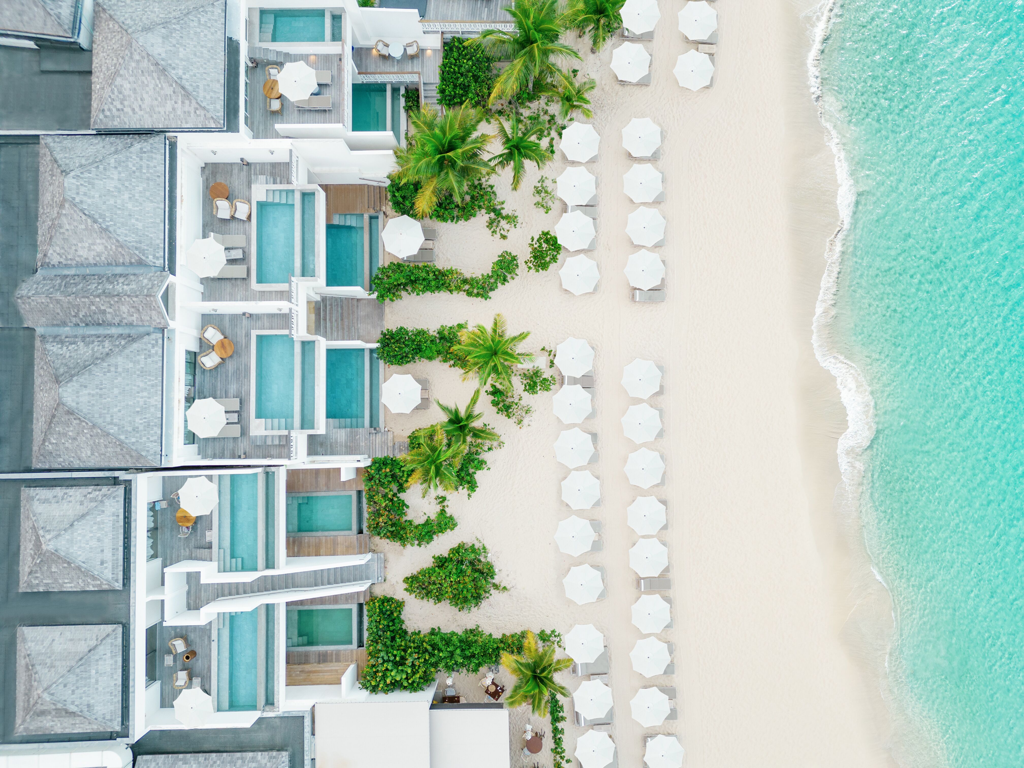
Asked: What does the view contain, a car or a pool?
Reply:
pool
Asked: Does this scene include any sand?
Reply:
Yes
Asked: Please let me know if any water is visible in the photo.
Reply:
Yes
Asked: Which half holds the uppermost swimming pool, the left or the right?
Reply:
left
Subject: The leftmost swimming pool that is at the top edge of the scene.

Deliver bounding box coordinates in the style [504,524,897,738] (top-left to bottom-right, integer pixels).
[251,7,350,54]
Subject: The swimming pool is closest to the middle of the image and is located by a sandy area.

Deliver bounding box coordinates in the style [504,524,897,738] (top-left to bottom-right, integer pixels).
[327,346,386,432]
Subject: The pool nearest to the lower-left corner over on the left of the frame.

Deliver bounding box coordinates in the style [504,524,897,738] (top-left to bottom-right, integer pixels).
[212,591,290,713]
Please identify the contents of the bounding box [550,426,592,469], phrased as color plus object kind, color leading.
white umbrella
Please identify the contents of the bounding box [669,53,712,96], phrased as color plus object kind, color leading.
white umbrella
